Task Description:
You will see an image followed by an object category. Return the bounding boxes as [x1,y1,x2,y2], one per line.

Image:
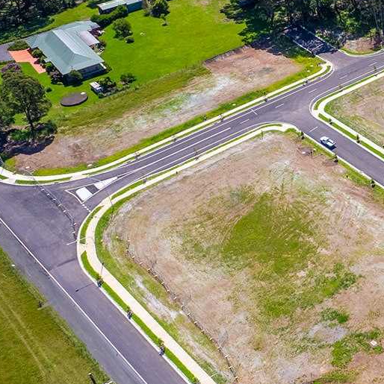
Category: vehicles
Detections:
[317,134,336,147]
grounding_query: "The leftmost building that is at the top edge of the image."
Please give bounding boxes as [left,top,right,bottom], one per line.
[25,18,106,82]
